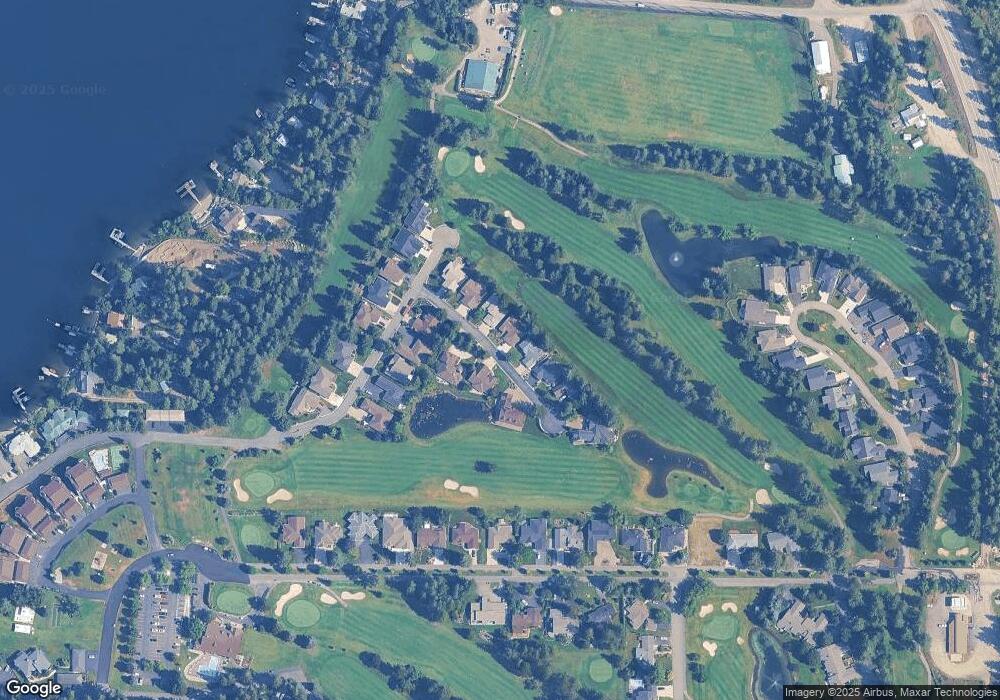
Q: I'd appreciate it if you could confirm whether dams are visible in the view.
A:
No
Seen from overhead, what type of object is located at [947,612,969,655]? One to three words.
barn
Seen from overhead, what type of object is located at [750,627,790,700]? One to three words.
pond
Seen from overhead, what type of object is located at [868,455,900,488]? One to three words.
house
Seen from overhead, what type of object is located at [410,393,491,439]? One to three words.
pond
